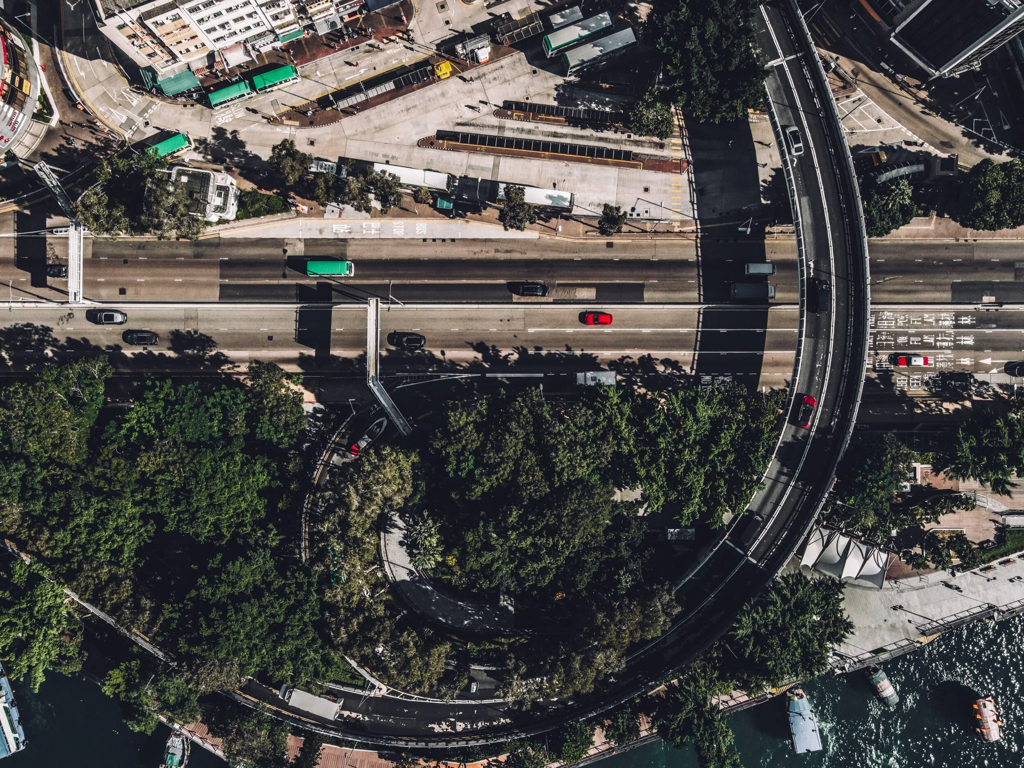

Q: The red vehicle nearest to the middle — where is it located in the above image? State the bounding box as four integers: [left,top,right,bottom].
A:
[586,312,613,326]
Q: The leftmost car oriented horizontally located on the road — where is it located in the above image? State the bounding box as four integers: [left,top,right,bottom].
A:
[44,265,70,278]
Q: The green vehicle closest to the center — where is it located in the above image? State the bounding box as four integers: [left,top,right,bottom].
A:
[306,260,350,276]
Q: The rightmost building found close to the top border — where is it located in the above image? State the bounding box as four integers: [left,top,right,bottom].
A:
[870,0,1024,91]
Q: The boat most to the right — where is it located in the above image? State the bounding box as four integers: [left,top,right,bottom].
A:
[971,683,1005,746]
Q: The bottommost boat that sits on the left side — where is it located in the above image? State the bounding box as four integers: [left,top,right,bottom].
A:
[161,729,187,768]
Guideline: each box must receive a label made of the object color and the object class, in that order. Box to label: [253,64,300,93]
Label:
green vehicle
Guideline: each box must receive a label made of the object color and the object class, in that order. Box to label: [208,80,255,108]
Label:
green vehicle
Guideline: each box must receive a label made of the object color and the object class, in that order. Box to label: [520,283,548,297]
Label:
black car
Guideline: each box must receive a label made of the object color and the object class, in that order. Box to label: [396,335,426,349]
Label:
black car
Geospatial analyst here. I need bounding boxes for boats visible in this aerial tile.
[781,690,818,756]
[863,663,903,712]
[971,683,1005,746]
[0,644,31,766]
[161,729,187,768]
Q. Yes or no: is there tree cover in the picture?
Yes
